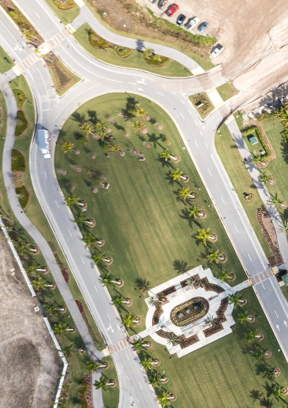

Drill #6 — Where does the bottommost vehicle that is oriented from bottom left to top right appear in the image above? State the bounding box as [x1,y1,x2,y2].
[211,43,225,57]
